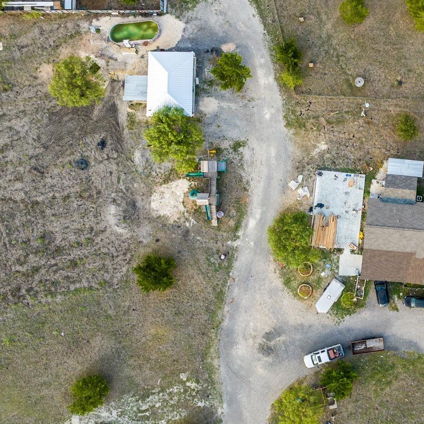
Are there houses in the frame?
Yes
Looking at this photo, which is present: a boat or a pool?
pool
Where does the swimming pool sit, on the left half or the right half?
left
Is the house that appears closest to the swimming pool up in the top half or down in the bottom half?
top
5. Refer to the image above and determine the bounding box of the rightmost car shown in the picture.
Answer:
[403,296,424,309]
